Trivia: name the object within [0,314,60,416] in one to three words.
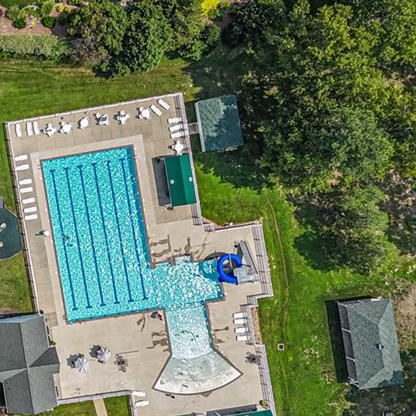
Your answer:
building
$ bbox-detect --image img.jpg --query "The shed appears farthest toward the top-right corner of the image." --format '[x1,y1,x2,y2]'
[190,96,242,152]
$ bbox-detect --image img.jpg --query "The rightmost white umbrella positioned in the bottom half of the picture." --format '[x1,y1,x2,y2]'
[95,348,112,364]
